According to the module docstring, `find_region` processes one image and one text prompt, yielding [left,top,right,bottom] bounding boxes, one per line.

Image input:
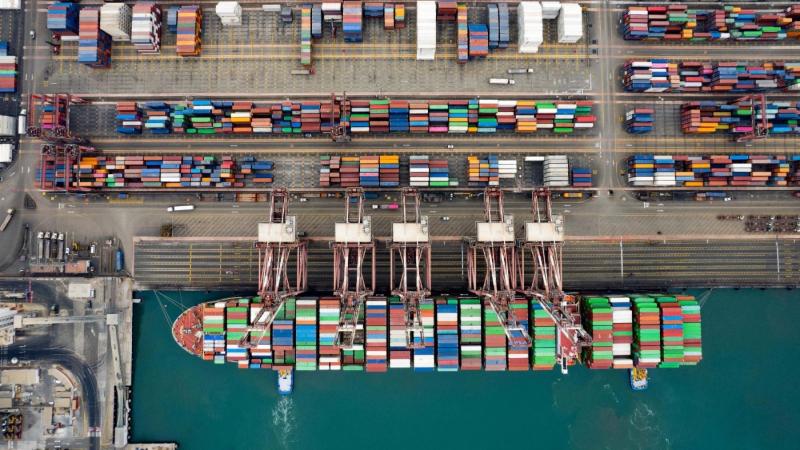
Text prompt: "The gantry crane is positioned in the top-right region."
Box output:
[724,92,767,141]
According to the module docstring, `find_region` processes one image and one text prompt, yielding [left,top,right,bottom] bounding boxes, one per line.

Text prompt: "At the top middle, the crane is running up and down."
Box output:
[330,92,353,141]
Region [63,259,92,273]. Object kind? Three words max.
building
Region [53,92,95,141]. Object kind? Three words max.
container crane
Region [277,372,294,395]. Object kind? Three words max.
boat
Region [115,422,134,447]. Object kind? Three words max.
house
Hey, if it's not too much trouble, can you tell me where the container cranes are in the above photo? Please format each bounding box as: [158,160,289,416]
[64,145,105,191]
[26,92,70,141]
[505,184,593,348]
[330,184,380,348]
[724,92,767,141]
[330,92,353,141]
[40,145,82,191]
[234,184,315,348]
[388,184,434,348]
[462,184,531,348]
[53,92,95,141]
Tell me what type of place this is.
port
